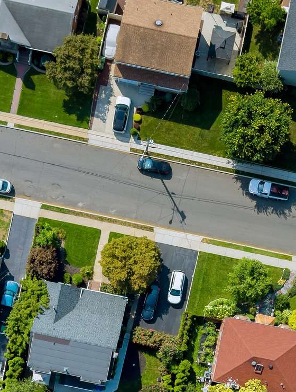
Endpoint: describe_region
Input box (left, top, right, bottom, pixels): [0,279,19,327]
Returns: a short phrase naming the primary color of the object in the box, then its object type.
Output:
blue vehicle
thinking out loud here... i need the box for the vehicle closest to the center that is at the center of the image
[137,156,172,177]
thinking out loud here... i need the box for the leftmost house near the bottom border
[28,278,129,392]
